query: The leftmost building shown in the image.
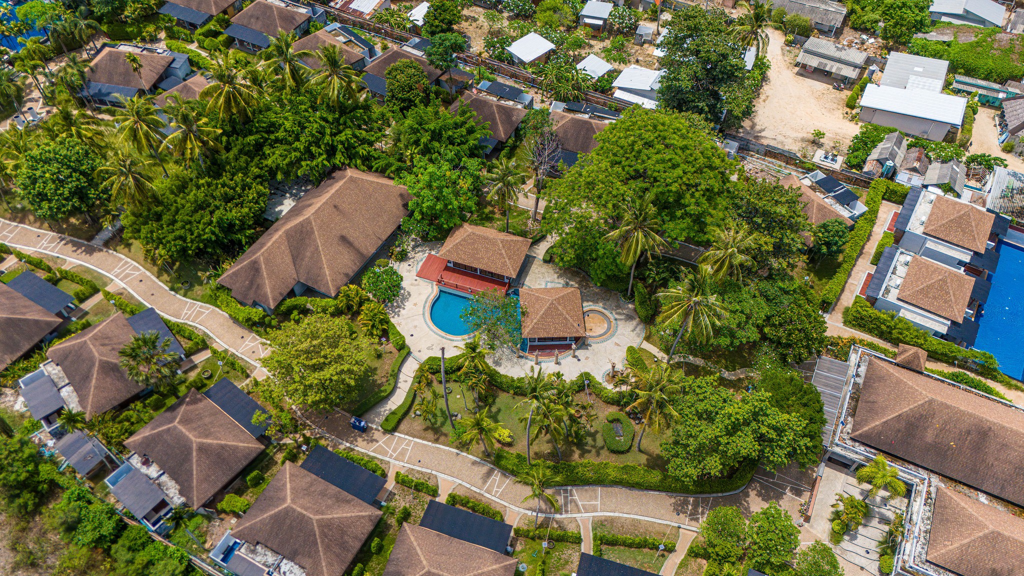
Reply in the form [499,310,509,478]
[0,270,82,374]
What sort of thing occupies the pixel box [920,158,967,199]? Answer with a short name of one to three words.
shed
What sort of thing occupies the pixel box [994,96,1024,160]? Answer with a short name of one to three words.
house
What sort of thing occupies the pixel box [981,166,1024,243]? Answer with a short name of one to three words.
shed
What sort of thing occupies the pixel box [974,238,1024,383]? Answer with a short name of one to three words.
swimming pool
